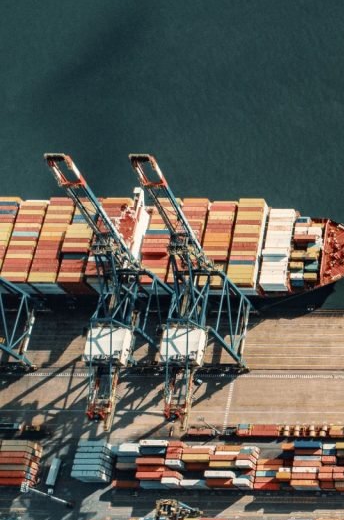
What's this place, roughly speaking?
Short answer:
port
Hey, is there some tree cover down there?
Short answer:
No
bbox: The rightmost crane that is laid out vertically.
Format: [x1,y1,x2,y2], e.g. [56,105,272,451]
[131,154,267,429]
